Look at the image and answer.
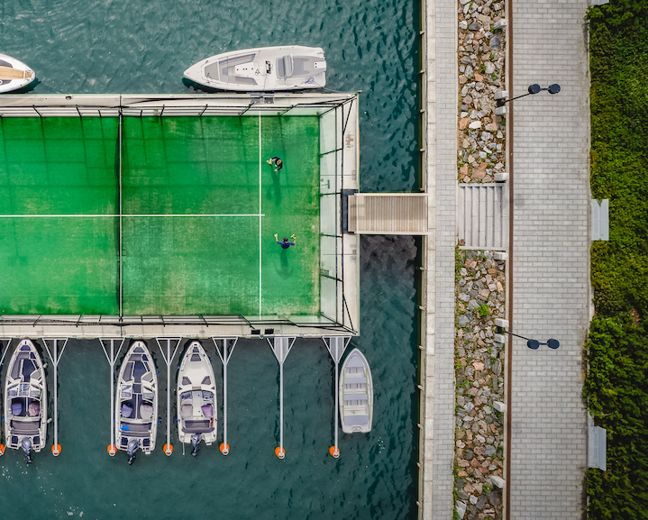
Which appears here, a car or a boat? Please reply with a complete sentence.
There is a boat in the scene.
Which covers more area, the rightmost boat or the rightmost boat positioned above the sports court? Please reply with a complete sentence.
The rightmost boat positioned above the sports court takes up more space than the rightmost boat.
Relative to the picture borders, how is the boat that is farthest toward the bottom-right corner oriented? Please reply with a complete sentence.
The boat that is farthest toward the bottom-right corner runs from top to bottom in the image.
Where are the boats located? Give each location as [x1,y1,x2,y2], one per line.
[5,339,48,465]
[183,45,326,92]
[177,341,218,457]
[115,340,159,466]
[338,348,373,433]
[0,54,36,93]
